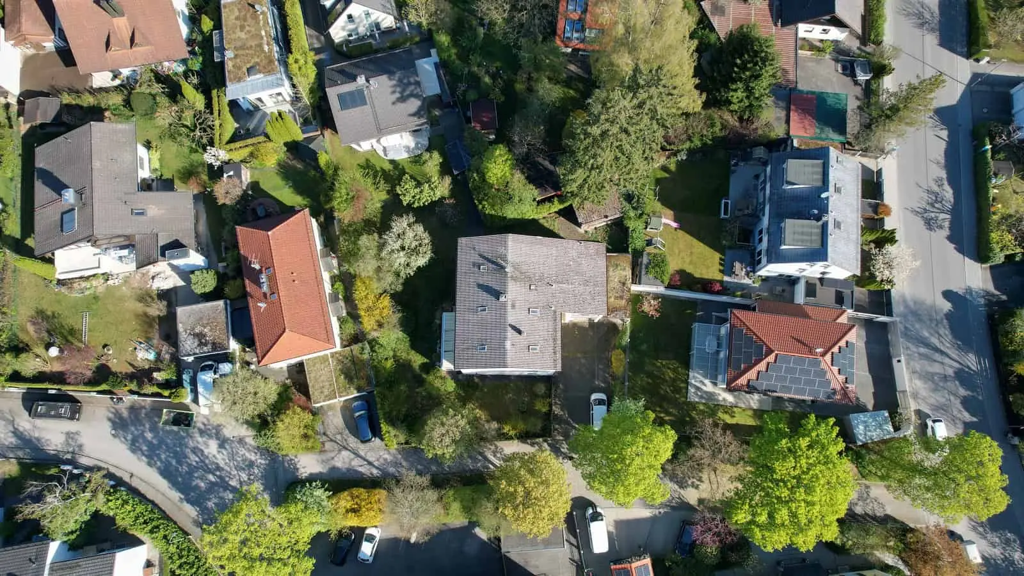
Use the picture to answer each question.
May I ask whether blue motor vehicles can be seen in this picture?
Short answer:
Yes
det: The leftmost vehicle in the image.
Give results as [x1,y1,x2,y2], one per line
[28,401,81,420]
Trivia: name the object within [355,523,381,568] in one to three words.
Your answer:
car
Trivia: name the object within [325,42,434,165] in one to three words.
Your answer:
house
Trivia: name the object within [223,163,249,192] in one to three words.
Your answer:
shed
